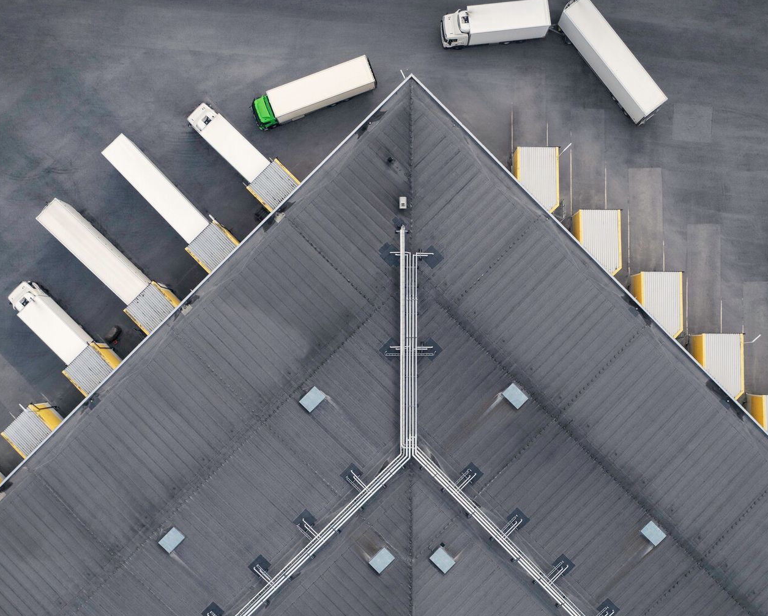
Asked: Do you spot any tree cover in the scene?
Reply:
No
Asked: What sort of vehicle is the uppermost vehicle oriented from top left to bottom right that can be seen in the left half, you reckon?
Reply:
truck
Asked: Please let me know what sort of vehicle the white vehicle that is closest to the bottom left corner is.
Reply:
truck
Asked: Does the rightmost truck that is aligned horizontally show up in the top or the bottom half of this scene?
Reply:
top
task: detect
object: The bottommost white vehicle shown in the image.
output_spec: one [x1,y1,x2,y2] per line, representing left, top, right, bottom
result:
[7,279,96,364]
